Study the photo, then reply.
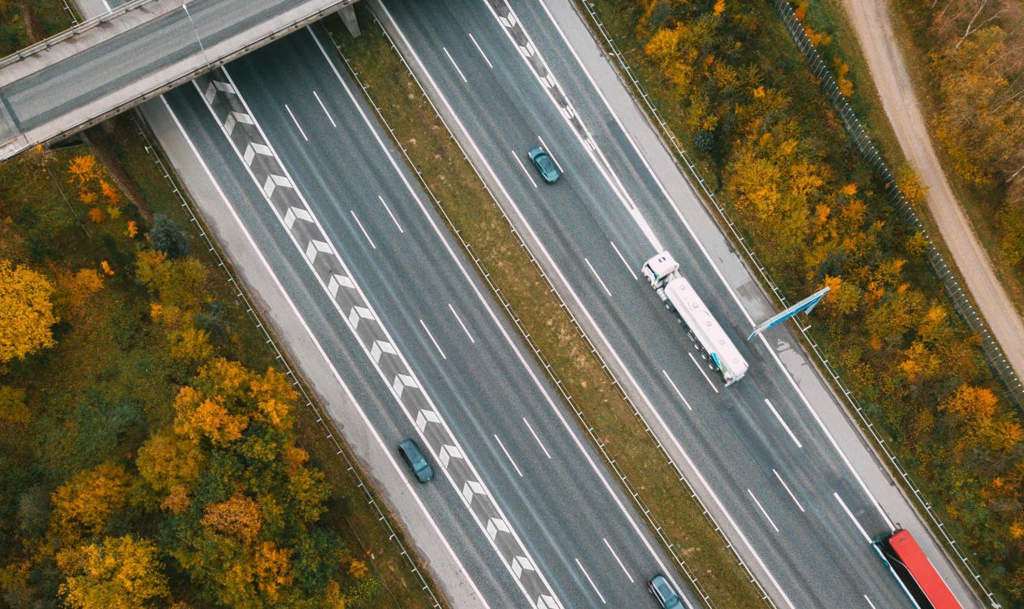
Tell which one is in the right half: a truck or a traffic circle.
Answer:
truck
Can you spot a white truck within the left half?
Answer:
No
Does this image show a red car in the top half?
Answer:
No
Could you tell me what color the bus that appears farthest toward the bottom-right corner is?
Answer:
red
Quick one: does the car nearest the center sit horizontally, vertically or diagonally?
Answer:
diagonally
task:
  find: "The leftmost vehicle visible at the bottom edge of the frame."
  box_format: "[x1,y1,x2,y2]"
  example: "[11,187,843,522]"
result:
[648,572,686,609]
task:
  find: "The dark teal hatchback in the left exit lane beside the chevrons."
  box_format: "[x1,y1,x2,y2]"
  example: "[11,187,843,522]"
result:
[398,438,433,484]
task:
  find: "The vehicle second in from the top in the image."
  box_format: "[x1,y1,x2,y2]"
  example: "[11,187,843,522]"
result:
[642,253,747,389]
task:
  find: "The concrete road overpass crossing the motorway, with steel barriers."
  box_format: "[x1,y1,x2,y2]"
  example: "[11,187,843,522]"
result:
[0,0,362,160]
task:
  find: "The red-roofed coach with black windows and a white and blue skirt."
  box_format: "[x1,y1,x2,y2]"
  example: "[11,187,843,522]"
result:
[874,521,965,609]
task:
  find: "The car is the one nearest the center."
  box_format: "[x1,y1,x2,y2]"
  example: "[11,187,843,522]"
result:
[526,147,560,186]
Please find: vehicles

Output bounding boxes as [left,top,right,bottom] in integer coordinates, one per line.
[648,572,686,609]
[642,253,747,389]
[526,147,560,186]
[398,438,433,484]
[874,521,965,609]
